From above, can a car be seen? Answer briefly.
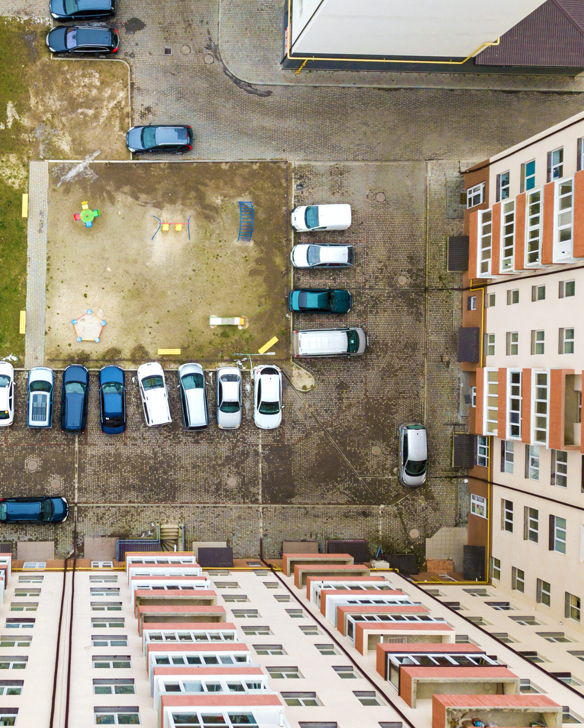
Yes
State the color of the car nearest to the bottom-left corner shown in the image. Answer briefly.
blue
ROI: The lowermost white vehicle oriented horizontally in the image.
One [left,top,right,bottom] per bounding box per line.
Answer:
[289,326,365,360]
